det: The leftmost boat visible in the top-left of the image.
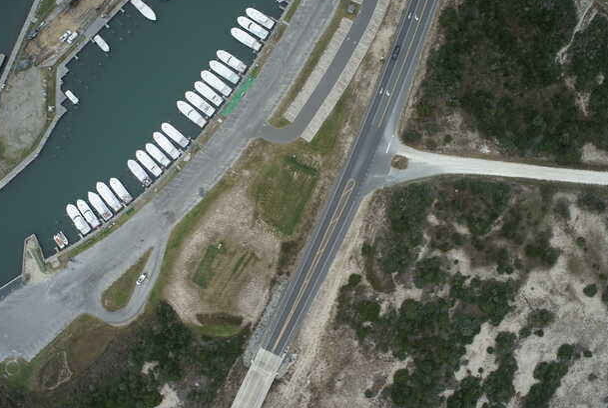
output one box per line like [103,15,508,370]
[64,89,80,105]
